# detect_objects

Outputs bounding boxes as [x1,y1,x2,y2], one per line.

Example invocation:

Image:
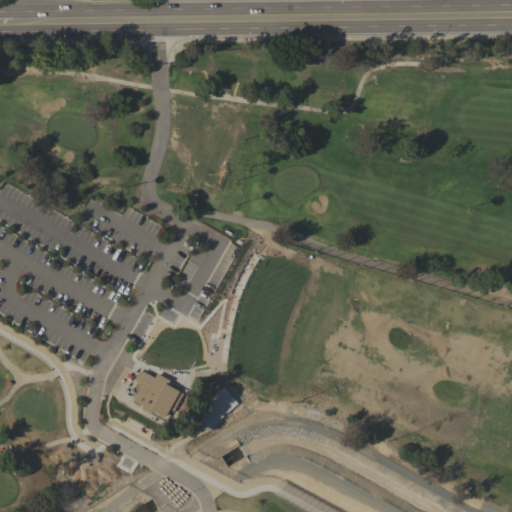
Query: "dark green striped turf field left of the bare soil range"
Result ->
[229,256,310,385]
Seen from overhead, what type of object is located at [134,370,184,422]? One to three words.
building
